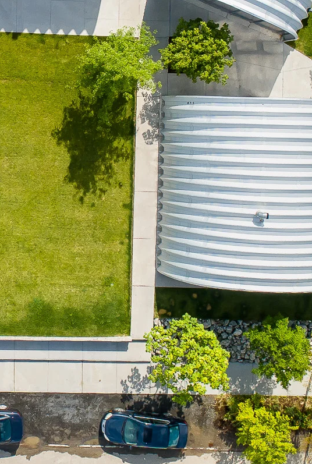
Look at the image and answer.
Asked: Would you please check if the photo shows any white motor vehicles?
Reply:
No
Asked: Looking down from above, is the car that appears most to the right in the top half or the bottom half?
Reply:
bottom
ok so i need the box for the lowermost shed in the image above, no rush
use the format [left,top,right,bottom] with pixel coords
[151,93,312,295]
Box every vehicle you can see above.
[0,406,22,445]
[98,405,189,451]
